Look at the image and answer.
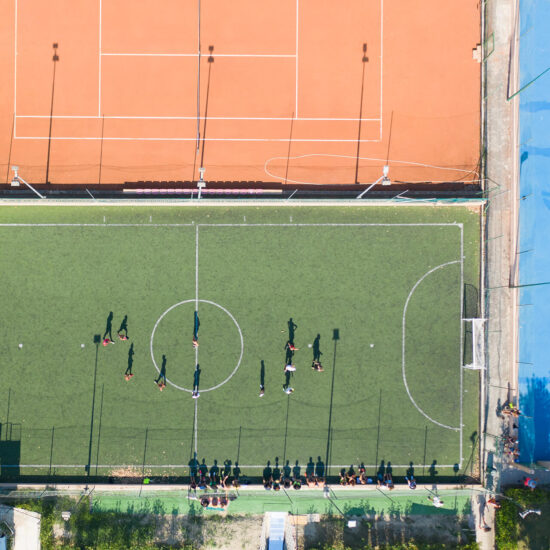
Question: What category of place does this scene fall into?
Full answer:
This looks like a sports ground.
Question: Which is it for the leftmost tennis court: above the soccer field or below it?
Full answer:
In the image, the leftmost tennis court sits above the soccer field.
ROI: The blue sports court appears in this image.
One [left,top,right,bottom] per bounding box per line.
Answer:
[517,0,550,462]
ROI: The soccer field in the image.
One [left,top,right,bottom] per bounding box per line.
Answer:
[0,205,480,483]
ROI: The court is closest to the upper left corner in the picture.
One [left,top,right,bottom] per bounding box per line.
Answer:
[0,0,480,189]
